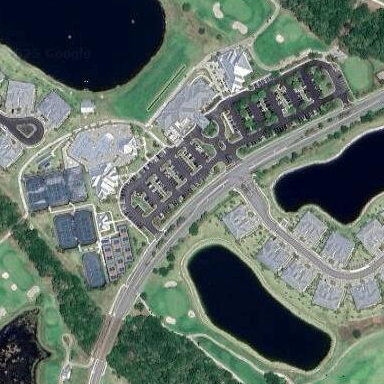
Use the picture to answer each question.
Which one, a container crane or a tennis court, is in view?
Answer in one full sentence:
It is a tennis court that can be seen here.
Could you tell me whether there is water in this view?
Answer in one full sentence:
Yes, the picture does contain water.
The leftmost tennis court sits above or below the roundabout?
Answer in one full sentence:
The leftmost tennis court is located below the roundabout in this view.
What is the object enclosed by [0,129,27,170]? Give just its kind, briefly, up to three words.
house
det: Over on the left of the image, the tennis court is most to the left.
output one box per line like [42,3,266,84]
[22,174,50,210]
